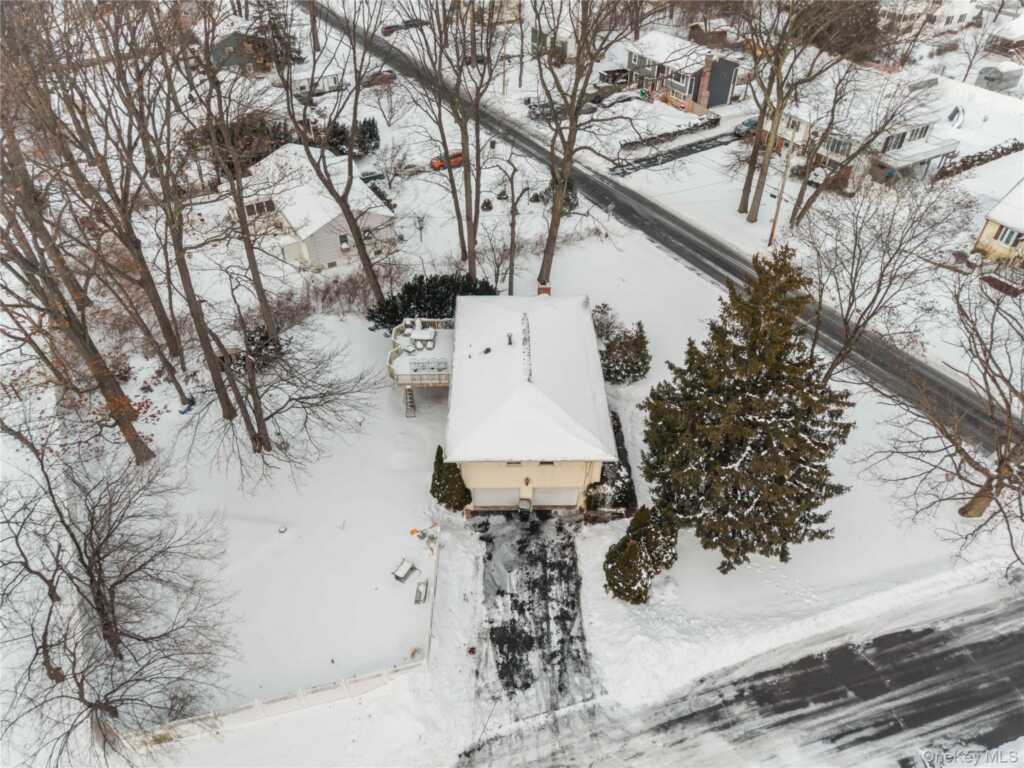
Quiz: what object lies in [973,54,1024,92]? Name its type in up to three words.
shed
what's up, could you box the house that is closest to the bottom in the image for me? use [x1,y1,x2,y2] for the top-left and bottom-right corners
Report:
[444,278,619,521]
